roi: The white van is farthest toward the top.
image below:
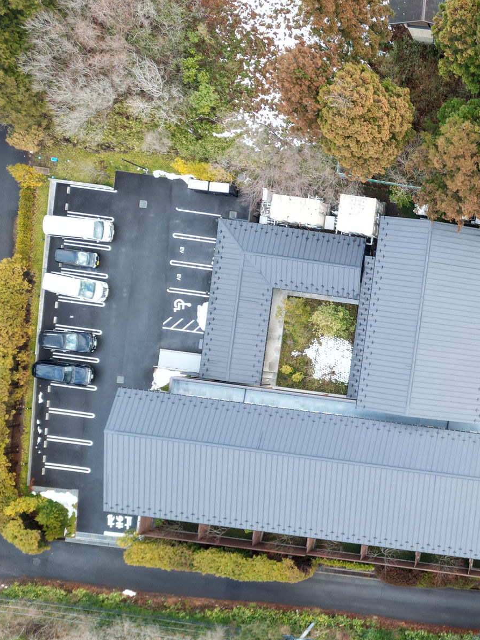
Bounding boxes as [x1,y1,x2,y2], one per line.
[38,215,109,244]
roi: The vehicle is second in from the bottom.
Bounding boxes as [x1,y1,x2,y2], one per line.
[34,330,96,356]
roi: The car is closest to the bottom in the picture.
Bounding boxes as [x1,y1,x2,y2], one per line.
[29,360,94,388]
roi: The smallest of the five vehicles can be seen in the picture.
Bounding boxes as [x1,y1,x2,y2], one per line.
[50,246,96,268]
